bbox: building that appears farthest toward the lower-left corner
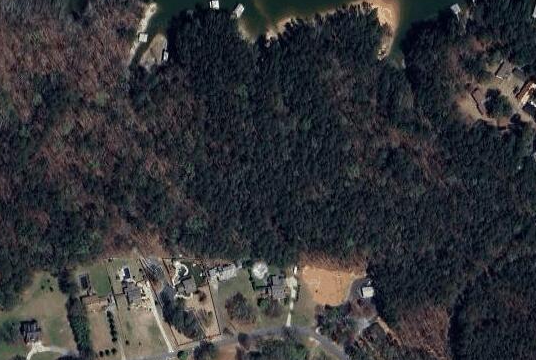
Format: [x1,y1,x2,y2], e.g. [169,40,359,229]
[22,320,39,341]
